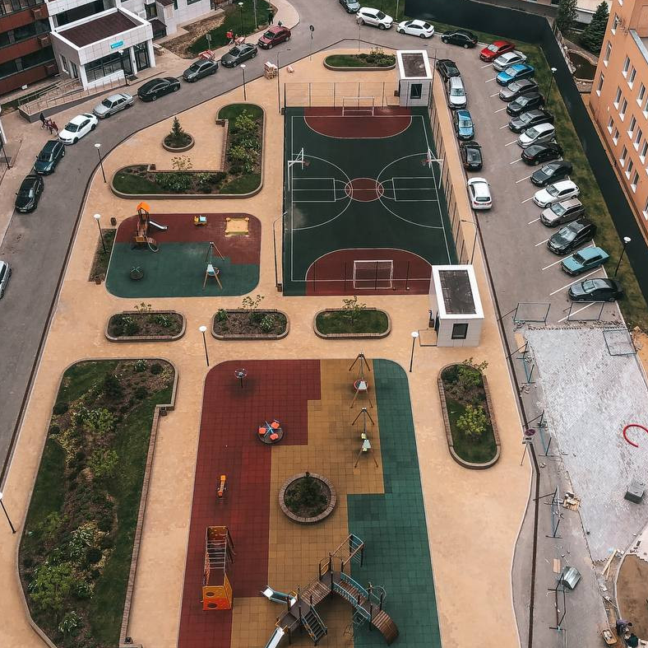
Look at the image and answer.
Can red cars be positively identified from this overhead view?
Yes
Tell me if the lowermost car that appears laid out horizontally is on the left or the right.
right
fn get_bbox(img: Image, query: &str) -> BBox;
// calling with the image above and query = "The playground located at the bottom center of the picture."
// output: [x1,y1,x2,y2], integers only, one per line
[175,358,443,648]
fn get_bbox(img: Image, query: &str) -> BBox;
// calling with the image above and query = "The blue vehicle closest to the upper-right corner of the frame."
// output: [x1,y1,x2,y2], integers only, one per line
[498,61,534,84]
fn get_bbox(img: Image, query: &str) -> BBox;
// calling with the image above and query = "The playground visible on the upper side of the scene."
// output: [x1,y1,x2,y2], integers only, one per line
[104,212,262,298]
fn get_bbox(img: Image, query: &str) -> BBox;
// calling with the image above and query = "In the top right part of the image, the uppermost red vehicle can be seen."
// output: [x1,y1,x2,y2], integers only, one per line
[478,40,517,62]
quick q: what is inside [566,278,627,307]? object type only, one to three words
car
